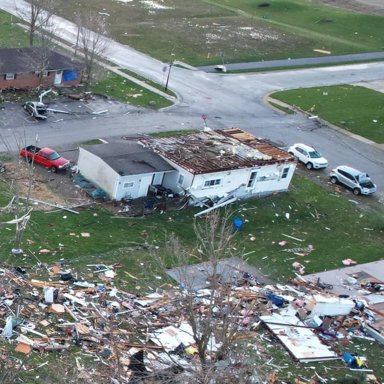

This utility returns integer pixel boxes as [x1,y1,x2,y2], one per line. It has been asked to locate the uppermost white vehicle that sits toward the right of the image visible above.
[284,140,333,167]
